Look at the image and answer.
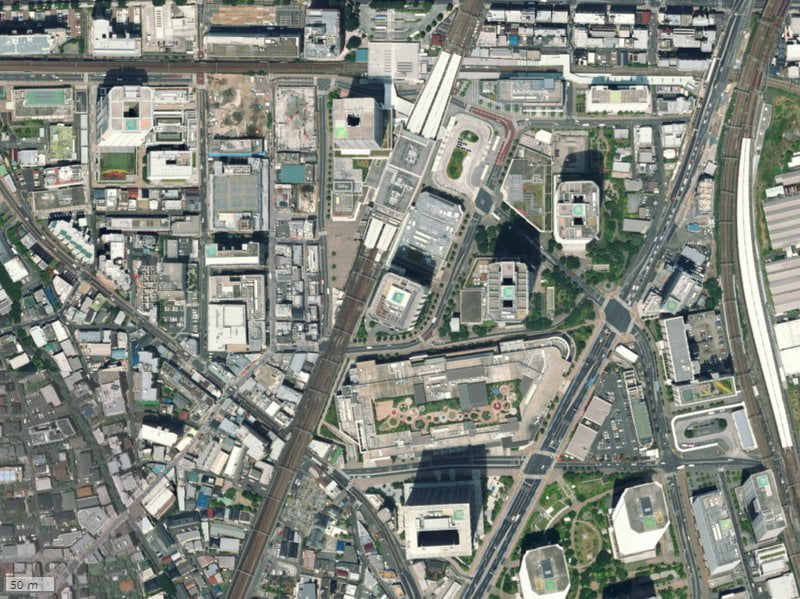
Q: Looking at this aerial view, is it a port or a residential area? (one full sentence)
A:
What you see here is a residential area.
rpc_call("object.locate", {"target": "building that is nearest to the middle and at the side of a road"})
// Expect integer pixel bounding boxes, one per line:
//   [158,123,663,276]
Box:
[366,272,427,339]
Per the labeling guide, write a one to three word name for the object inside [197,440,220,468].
house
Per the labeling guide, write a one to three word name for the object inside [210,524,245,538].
shed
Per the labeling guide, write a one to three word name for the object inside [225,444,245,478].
shed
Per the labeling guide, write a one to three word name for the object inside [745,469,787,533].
building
